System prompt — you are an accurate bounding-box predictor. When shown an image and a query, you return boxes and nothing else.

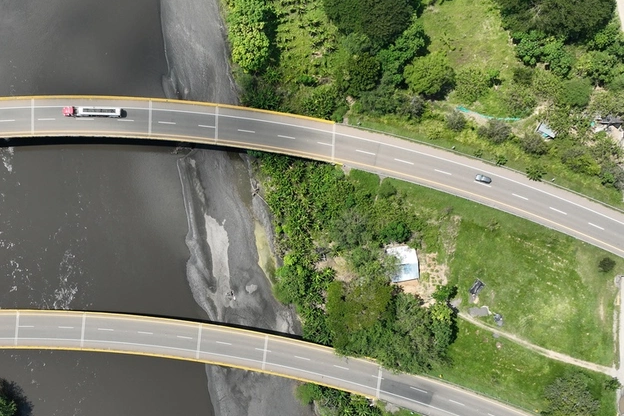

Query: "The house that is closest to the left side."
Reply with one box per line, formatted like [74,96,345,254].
[386,248,419,283]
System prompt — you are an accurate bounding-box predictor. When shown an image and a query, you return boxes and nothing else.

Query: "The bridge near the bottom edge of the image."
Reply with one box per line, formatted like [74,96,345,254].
[0,310,386,400]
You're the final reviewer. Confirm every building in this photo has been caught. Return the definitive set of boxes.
[386,248,419,283]
[594,117,623,135]
[533,120,556,139]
